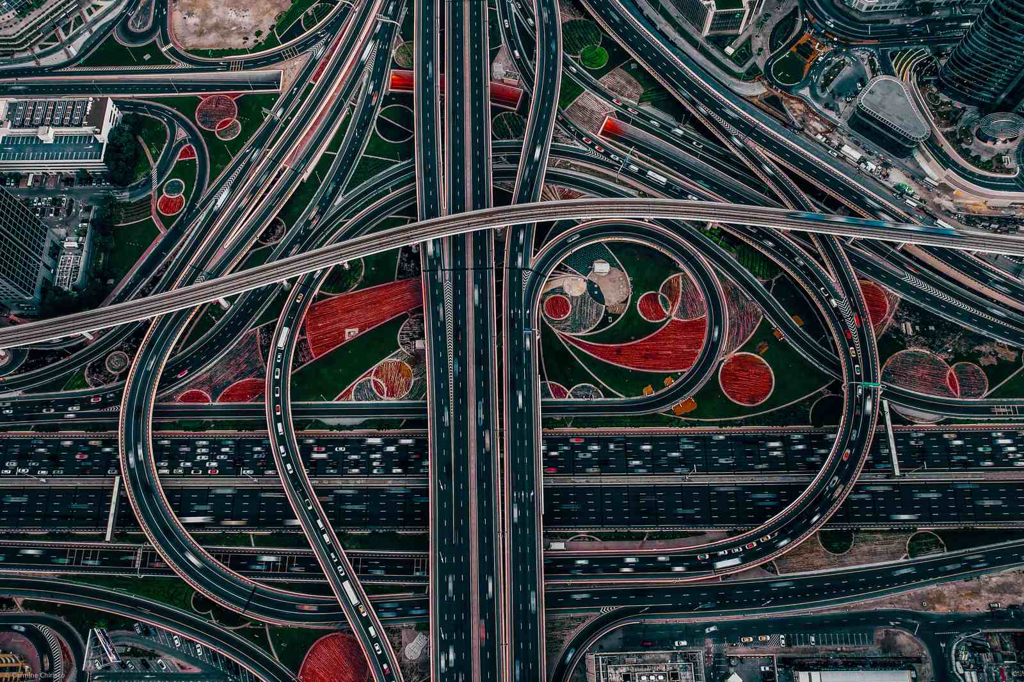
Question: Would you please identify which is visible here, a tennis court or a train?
train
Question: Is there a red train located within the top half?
No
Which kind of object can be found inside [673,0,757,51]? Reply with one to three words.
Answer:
building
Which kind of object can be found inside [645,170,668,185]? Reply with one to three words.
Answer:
vehicle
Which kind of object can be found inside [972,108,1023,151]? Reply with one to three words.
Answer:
building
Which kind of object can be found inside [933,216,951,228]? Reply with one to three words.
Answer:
vehicle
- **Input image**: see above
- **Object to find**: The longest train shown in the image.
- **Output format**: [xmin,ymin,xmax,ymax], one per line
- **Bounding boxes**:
[788,210,951,236]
